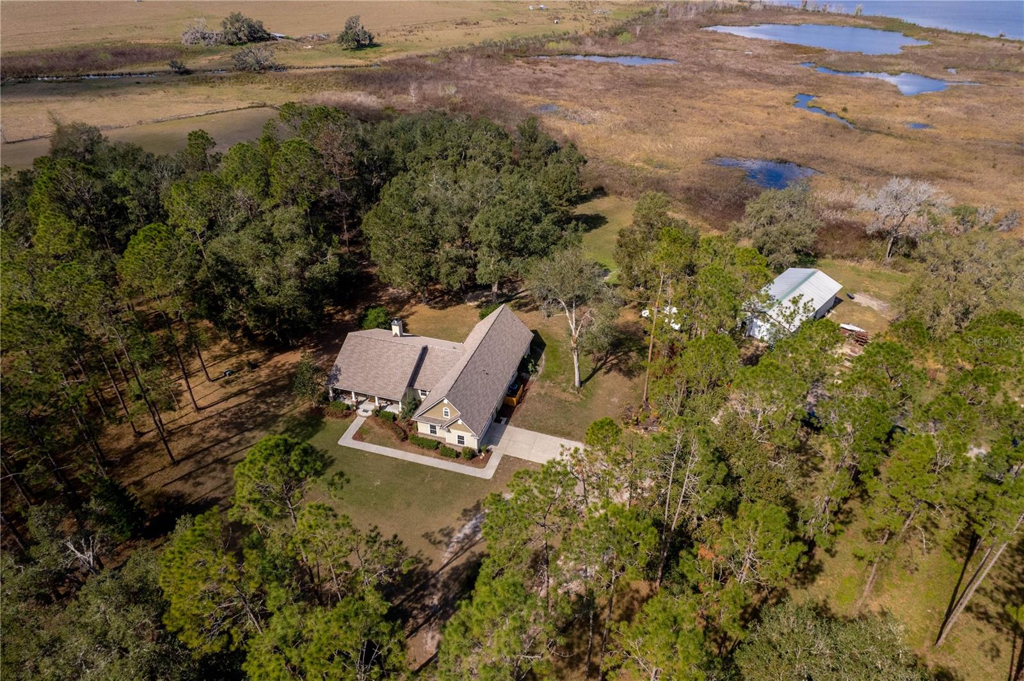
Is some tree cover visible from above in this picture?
Yes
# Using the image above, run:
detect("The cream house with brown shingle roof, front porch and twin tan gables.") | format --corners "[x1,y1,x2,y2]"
[328,304,534,453]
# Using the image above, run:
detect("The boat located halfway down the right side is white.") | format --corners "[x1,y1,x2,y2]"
[837,322,870,336]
